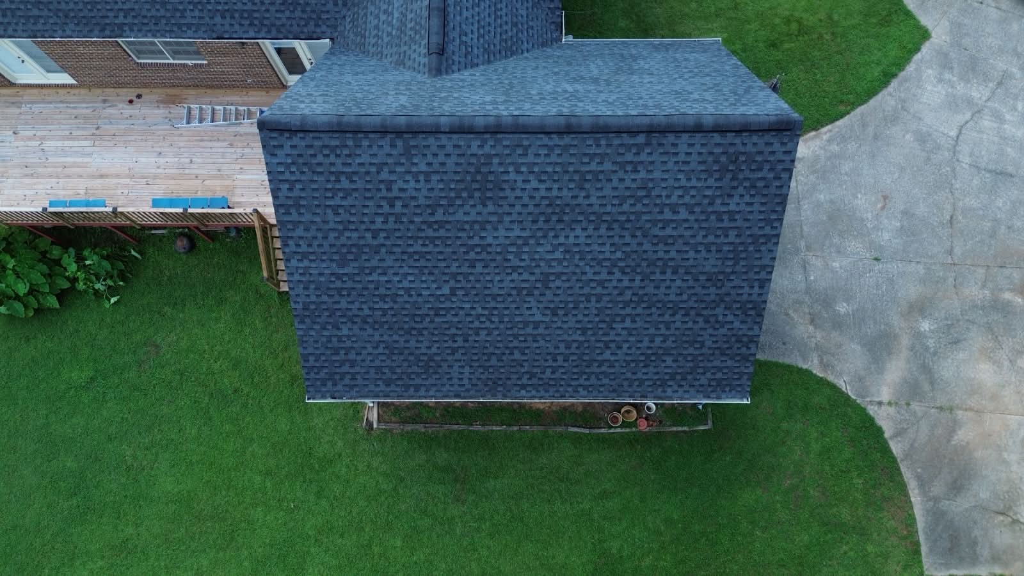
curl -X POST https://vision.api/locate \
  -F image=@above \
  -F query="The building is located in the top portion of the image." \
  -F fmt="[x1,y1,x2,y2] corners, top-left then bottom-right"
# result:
[0,0,805,404]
